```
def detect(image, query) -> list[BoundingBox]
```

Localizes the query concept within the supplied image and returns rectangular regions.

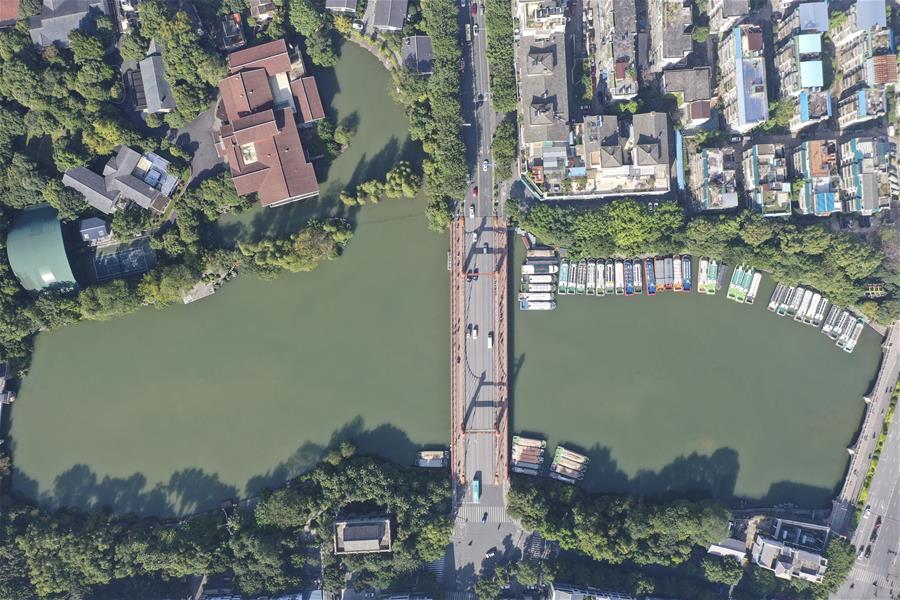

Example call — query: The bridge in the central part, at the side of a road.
[449,211,511,488]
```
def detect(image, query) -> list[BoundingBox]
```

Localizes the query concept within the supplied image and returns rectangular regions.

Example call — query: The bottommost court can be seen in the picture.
[91,241,158,286]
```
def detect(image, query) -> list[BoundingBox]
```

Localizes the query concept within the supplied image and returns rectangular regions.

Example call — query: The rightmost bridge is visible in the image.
[831,312,900,521]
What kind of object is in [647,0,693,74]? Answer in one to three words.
building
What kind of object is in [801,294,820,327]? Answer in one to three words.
boat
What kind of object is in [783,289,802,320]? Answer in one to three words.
boat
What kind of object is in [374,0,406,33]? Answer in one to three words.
house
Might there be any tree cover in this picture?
Yes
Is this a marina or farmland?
marina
